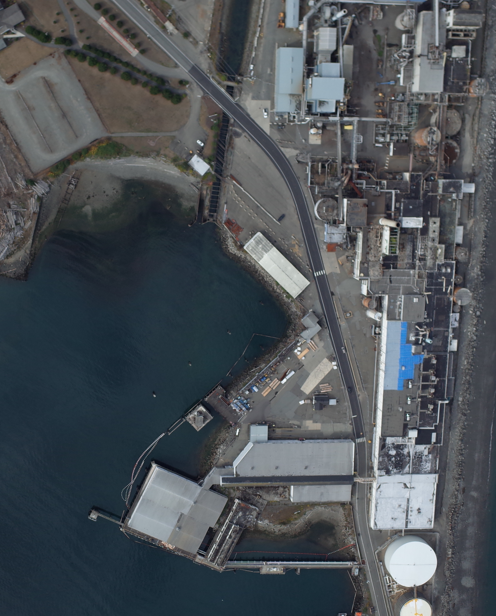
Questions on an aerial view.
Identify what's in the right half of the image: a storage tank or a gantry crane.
storage tank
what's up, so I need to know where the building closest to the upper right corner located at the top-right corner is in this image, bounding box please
[446,9,485,31]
